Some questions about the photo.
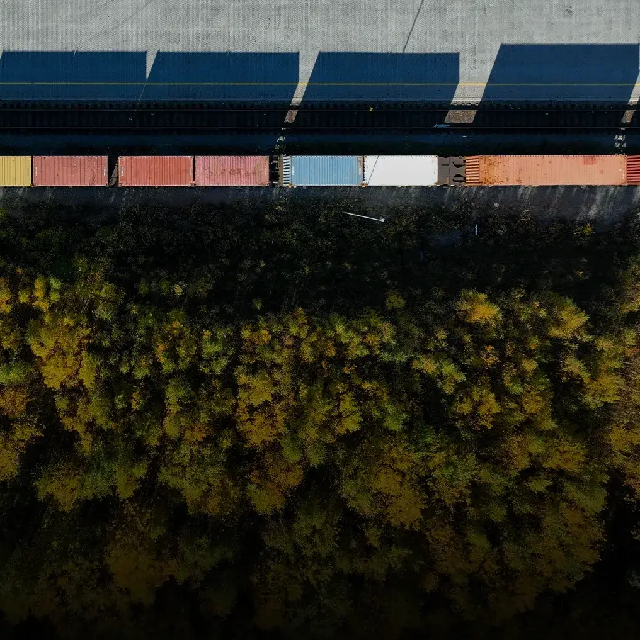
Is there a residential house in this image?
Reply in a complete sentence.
No, I can see no residential house in this picture.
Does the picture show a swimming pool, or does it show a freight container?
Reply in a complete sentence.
There is a freight container in the scene.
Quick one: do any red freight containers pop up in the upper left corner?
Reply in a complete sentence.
Yes, I can see a red freight container in the upper left corner.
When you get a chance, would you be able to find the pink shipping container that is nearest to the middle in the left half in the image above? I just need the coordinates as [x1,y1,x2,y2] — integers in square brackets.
[192,156,269,185]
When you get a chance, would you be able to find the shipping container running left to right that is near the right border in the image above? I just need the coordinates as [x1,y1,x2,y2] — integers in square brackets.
[465,155,626,185]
